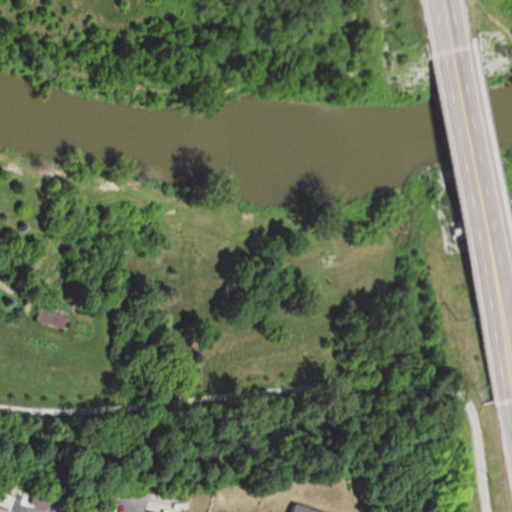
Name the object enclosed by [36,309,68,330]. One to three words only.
building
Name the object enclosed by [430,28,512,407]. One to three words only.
bridge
